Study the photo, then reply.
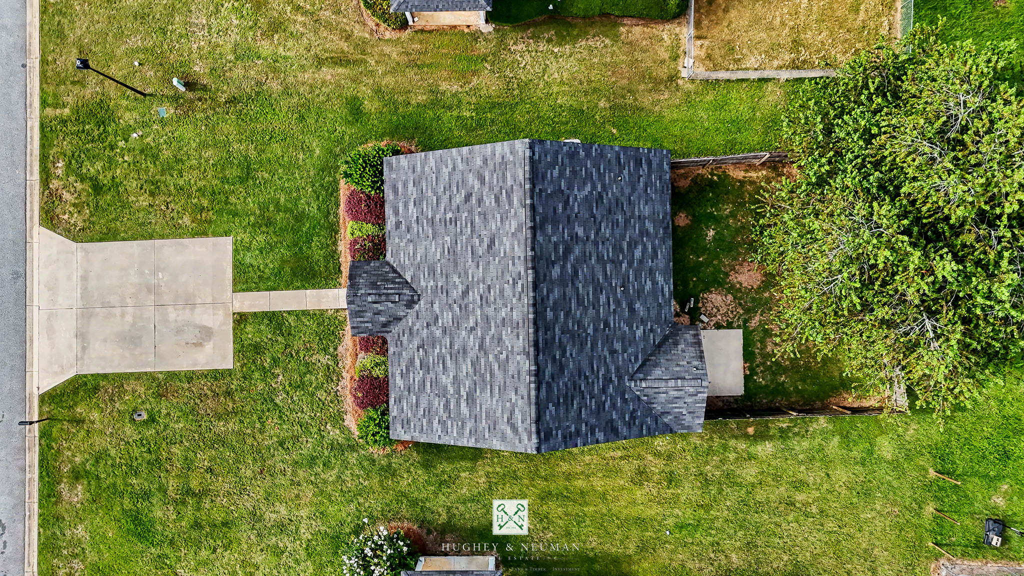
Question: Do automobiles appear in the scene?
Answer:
No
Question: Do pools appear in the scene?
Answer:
No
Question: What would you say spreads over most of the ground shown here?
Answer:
grass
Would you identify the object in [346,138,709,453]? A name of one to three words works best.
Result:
house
